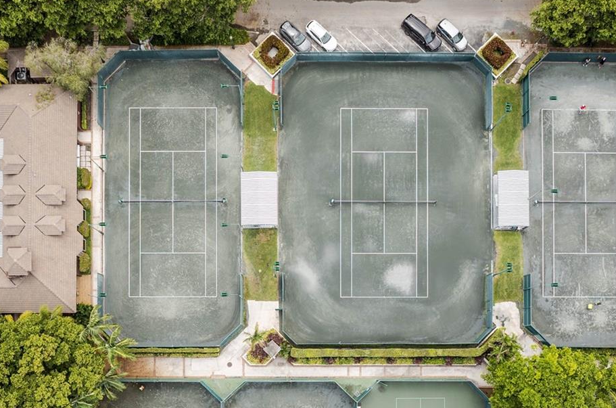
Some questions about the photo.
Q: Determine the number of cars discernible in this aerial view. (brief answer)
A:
4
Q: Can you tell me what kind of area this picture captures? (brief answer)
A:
sports ground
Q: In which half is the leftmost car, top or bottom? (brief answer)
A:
top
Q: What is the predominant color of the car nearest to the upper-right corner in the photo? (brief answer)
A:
white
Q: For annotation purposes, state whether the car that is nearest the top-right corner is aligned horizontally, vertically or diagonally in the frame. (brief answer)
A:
diagonally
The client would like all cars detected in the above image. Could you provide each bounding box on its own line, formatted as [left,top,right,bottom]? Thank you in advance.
[280,19,312,53]
[438,18,469,52]
[406,15,443,52]
[306,18,337,52]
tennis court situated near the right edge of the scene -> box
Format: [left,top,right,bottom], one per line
[521,62,616,347]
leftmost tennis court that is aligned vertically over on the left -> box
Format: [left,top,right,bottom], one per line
[102,59,242,347]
